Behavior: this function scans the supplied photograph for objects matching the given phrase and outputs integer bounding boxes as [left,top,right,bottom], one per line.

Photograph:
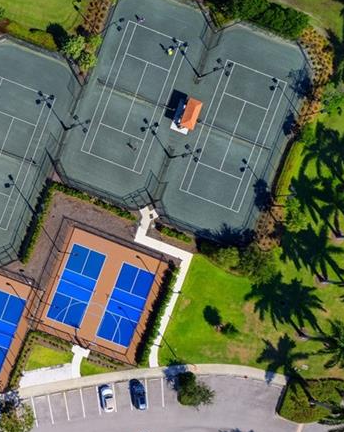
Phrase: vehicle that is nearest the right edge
[132,381,149,411]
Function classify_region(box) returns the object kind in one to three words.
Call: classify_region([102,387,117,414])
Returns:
car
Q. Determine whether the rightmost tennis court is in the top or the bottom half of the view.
top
